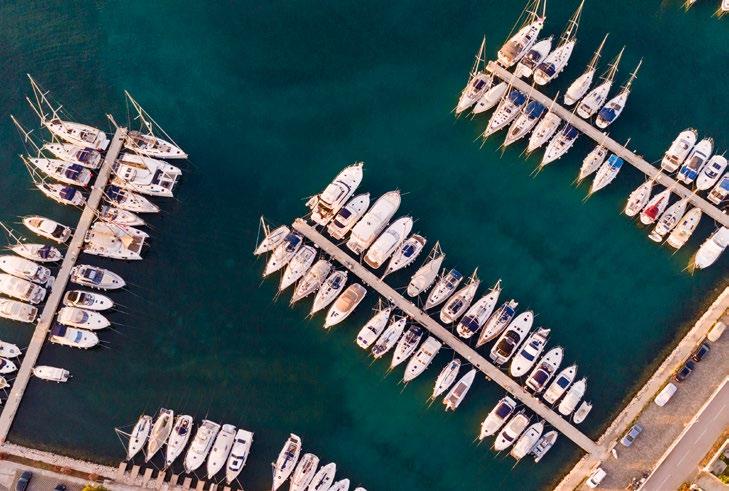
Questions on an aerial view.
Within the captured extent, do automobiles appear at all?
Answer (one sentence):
Yes, I can see an automobile in this picture.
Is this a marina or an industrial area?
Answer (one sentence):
This image shows a marina.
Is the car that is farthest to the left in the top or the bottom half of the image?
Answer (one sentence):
It is in the bottom half that the car that is farthest to the left appears.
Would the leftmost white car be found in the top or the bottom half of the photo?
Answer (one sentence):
You can find the leftmost white car in the bottom half.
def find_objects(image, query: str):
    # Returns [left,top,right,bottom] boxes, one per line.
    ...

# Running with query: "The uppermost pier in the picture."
[485,62,729,226]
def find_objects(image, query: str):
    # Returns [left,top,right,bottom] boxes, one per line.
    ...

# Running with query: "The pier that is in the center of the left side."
[0,127,129,443]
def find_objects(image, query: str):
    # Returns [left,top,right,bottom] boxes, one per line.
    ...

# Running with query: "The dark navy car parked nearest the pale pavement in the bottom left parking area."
[12,468,34,491]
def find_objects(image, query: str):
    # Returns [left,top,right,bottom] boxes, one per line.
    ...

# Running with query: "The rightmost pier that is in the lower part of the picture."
[292,218,599,455]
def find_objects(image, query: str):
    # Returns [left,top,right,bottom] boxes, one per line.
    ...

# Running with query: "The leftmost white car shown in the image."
[586,465,607,490]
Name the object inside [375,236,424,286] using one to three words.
boat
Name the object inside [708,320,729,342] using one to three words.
vehicle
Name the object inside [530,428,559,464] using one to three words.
boat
